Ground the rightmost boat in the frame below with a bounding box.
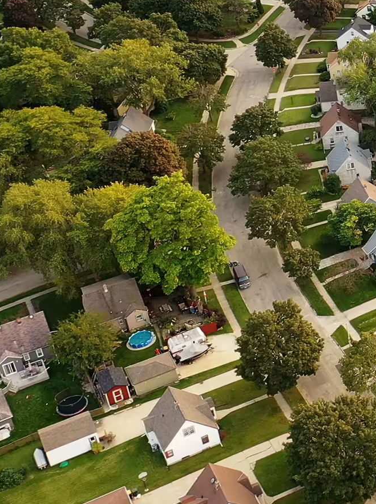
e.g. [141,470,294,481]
[175,341,216,361]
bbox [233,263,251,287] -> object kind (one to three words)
vehicle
